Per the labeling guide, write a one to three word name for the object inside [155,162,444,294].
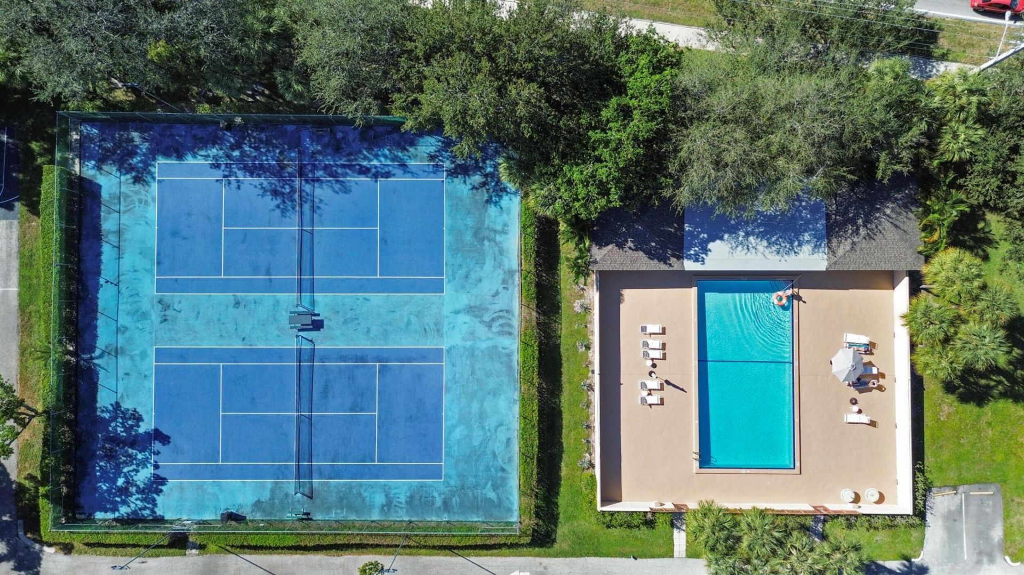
tennis court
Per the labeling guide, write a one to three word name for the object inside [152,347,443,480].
tennis court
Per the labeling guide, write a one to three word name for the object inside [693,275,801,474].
swimming pool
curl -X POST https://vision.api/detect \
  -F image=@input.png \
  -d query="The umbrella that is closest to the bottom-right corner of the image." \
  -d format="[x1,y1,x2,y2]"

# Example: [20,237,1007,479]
[830,349,862,383]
